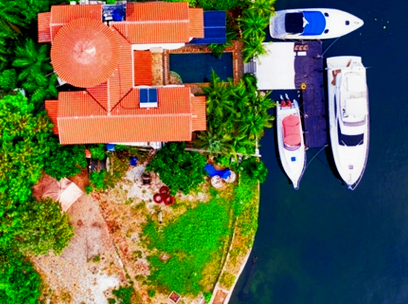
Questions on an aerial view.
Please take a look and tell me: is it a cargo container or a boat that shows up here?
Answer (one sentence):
There is a boat in the scene.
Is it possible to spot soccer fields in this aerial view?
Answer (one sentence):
No, this view has no soccer field in it.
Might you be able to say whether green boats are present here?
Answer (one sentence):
No, there isn't any green boat down there.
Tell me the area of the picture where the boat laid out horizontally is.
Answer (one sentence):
The boat laid out horizontally sits in the top right section of the image.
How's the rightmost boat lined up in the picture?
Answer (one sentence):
The rightmost boat is laid out up and down.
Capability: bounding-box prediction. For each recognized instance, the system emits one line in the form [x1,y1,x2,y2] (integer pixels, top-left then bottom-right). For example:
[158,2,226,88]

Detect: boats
[277,90,306,193]
[267,7,366,39]
[324,50,373,190]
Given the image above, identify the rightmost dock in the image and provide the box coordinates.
[264,40,328,147]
